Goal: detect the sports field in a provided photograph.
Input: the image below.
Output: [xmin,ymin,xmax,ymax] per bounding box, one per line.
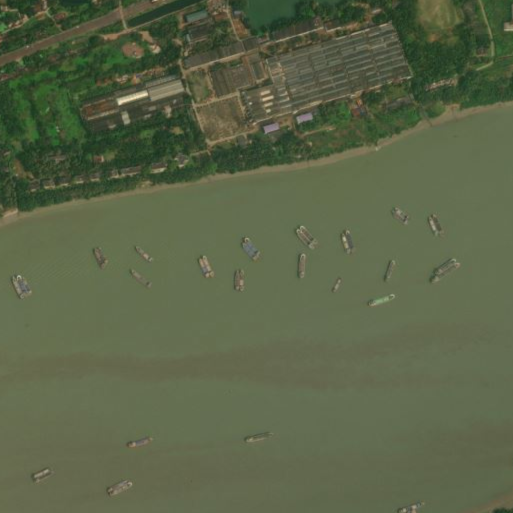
[416,0,464,31]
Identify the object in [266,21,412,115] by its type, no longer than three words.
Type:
building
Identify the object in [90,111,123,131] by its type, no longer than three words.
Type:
shed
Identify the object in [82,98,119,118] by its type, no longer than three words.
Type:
building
